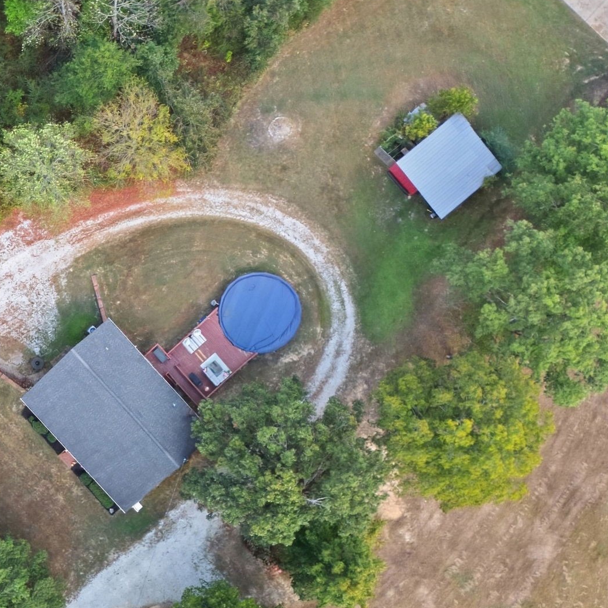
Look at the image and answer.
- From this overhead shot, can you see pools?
Yes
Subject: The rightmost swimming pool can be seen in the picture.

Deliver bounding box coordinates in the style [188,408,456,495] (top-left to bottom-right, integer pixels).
[218,272,302,355]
